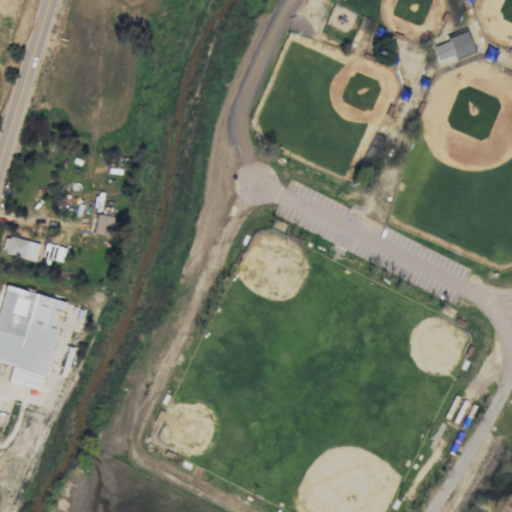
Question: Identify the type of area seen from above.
sports ground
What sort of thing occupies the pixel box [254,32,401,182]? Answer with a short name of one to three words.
baseball field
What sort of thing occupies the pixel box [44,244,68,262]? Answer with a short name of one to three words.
shed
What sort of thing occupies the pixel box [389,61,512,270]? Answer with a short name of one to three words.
baseball field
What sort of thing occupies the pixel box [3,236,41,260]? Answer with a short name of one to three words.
house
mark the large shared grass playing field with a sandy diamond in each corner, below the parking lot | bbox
[154,229,470,512]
